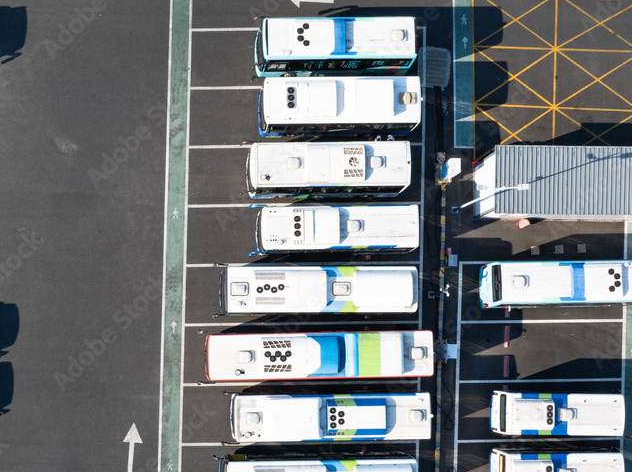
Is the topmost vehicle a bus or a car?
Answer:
bus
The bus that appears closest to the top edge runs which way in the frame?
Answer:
from side to side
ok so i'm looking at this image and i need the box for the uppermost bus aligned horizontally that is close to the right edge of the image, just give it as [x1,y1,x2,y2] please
[483,262,632,304]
